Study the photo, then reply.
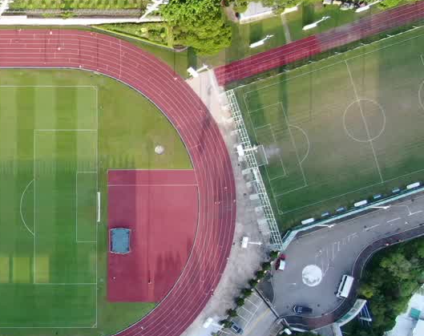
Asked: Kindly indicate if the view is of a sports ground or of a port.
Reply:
sports ground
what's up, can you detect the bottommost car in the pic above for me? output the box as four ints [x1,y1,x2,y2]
[230,323,244,335]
